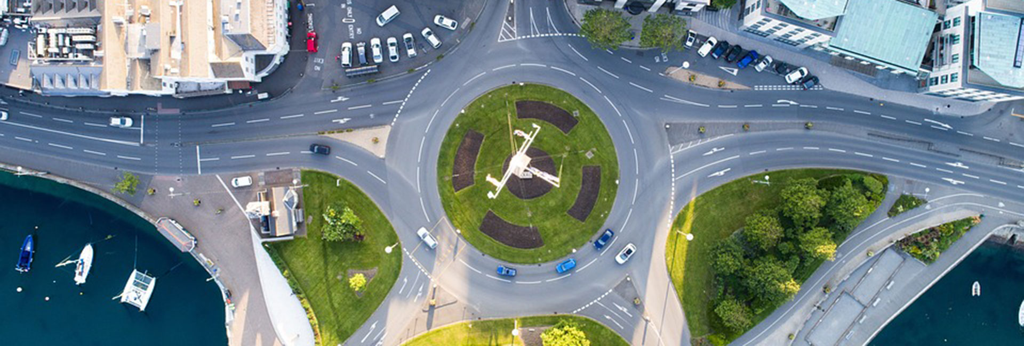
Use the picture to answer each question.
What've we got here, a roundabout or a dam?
roundabout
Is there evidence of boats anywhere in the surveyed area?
Yes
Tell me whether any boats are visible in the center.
No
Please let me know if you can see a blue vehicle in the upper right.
Yes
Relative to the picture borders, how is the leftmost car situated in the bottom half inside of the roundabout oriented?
at an angle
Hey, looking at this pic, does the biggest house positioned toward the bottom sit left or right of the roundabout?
left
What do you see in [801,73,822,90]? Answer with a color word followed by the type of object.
blue car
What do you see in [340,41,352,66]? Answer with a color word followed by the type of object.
white vehicle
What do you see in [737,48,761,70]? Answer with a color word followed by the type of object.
blue car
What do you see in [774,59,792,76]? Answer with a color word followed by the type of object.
black car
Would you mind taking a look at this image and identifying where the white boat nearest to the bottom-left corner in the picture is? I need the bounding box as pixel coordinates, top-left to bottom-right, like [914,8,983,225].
[58,245,89,286]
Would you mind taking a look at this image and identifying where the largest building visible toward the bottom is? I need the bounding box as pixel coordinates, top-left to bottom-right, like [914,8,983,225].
[245,187,306,237]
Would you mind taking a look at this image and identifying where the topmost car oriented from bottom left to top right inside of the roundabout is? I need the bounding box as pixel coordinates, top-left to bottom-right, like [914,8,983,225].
[594,227,615,251]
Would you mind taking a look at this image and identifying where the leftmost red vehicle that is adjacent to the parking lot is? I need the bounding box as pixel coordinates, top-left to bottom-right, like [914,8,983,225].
[305,31,317,52]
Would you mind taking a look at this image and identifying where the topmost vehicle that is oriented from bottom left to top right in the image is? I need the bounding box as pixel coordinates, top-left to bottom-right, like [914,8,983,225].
[374,4,401,25]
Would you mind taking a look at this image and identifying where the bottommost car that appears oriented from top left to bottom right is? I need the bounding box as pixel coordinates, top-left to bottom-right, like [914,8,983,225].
[415,226,439,250]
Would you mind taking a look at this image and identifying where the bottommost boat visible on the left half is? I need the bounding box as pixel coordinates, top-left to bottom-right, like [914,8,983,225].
[114,270,153,313]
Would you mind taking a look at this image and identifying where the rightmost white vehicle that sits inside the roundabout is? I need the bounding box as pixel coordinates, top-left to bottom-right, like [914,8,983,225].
[615,242,638,265]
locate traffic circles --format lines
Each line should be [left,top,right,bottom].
[384,33,673,318]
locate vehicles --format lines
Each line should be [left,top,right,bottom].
[340,41,352,66]
[433,12,458,30]
[594,227,615,251]
[386,36,399,62]
[402,31,417,57]
[107,116,132,127]
[229,176,252,188]
[697,34,720,58]
[305,31,317,52]
[737,48,761,70]
[754,53,774,73]
[420,25,442,49]
[801,73,822,90]
[774,59,792,76]
[0,109,9,121]
[356,41,366,64]
[374,4,401,25]
[615,242,638,265]
[725,41,745,64]
[369,36,382,62]
[554,259,578,273]
[710,39,730,60]
[784,65,810,84]
[415,226,439,250]
[308,143,331,155]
